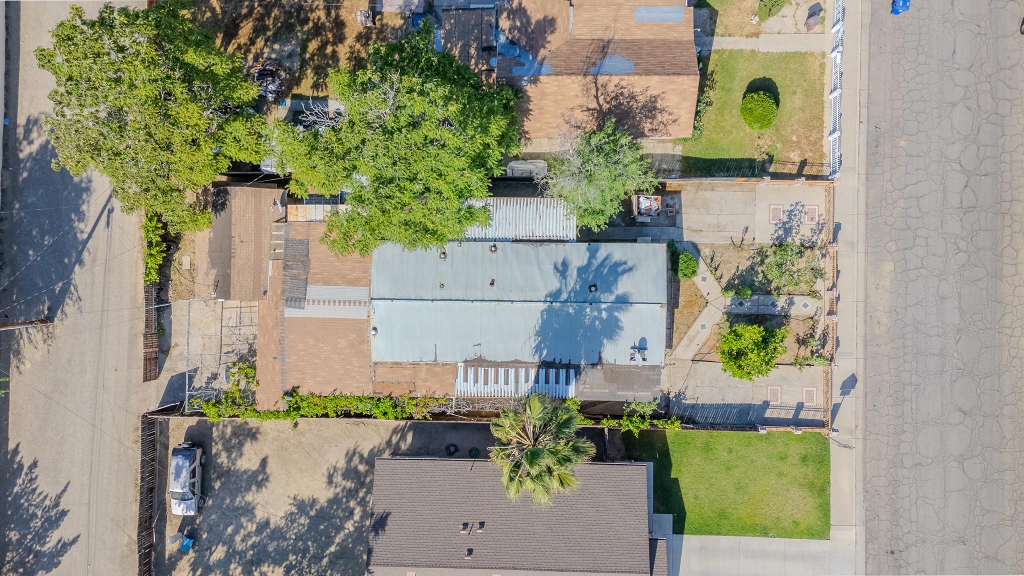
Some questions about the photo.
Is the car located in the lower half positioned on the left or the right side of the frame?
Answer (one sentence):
The car located in the lower half is on the left side of the image.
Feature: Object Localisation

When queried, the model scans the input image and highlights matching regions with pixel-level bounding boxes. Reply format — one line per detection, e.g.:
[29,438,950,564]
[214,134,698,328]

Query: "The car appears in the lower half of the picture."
[169,441,206,514]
